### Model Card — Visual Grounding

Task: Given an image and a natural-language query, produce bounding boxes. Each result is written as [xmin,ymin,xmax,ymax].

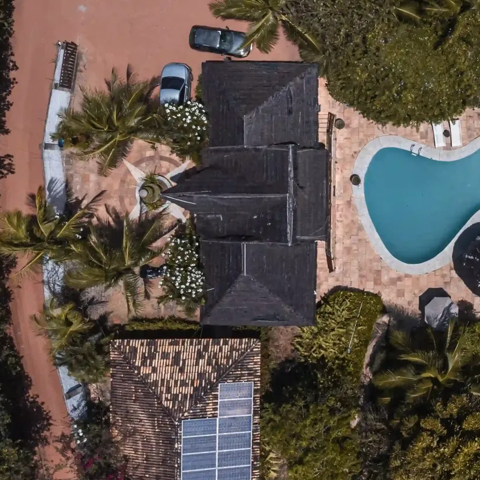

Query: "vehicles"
[136,267,165,278]
[190,26,251,57]
[159,61,195,120]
